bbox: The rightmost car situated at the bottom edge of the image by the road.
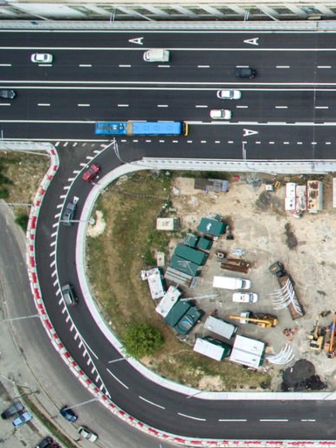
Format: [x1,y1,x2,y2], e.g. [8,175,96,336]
[76,426,97,443]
